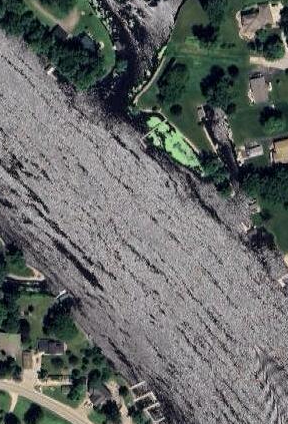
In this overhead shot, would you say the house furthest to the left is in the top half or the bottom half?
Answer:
bottom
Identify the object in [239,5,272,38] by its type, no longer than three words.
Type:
house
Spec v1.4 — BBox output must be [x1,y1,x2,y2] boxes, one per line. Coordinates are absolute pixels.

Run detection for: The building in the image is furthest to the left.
[0,332,21,356]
